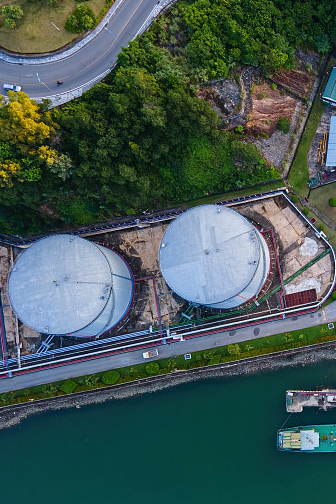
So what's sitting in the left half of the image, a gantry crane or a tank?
tank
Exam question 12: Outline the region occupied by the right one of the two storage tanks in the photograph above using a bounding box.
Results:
[158,202,276,309]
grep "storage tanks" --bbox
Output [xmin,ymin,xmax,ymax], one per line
[7,232,140,342]
[158,202,276,309]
